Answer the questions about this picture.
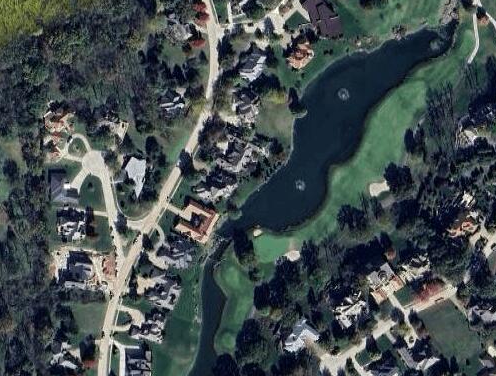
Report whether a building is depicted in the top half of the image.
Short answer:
Yes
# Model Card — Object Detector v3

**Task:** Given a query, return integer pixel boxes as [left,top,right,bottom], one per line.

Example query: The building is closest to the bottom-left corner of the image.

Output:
[49,340,80,375]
